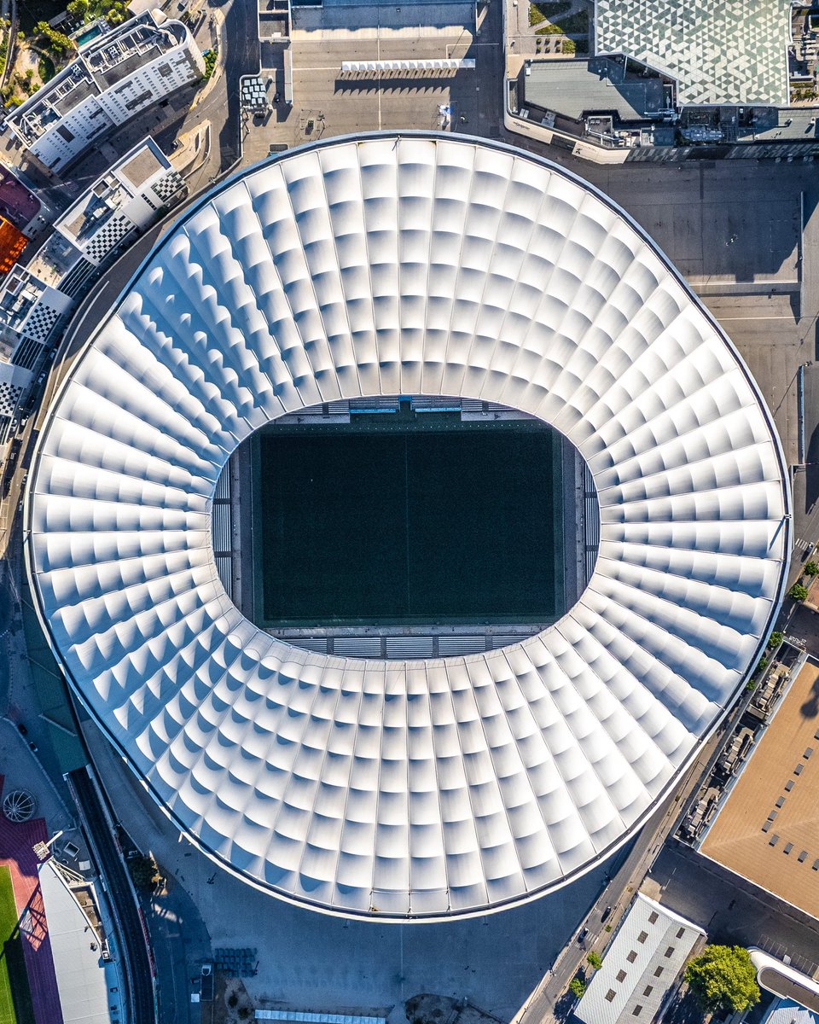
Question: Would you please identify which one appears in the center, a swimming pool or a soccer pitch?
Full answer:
There is a soccer pitch in the center.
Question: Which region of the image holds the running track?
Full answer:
The running track appears toward the bottom left of the photo.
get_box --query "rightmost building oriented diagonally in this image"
[745,945,819,1014]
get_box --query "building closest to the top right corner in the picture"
[500,0,819,164]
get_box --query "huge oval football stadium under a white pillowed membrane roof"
[22,128,796,926]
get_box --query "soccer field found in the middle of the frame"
[242,406,578,640]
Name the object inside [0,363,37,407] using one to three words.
building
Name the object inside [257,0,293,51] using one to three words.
building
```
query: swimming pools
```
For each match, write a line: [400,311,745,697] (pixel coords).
[72,17,109,51]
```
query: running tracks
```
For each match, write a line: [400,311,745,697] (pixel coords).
[0,772,64,1024]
